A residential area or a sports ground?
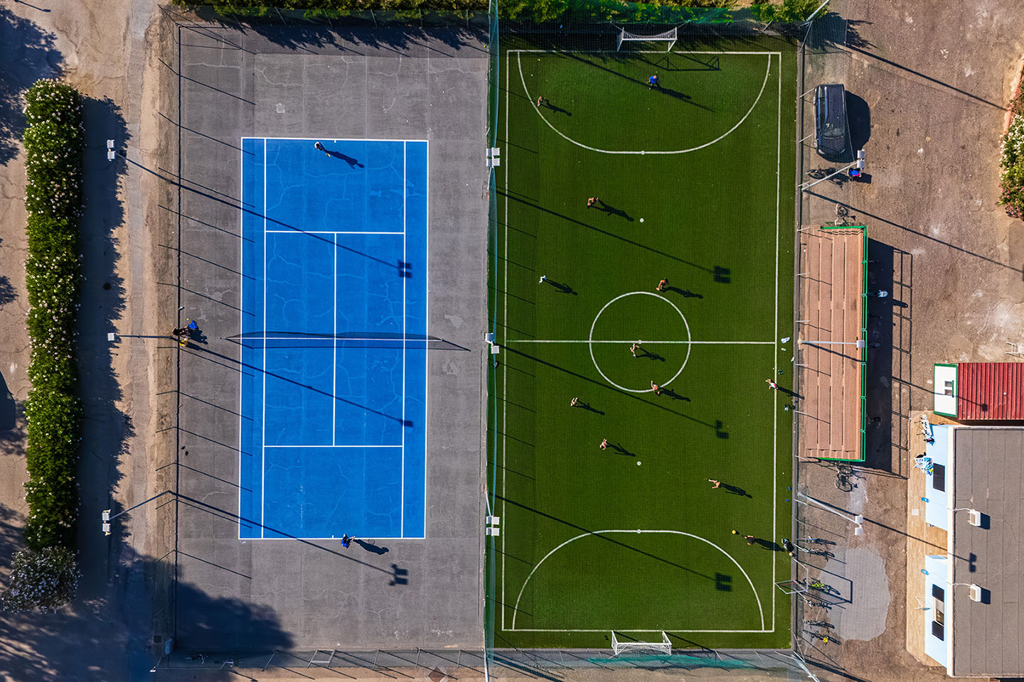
sports ground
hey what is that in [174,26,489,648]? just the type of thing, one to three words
tennis court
